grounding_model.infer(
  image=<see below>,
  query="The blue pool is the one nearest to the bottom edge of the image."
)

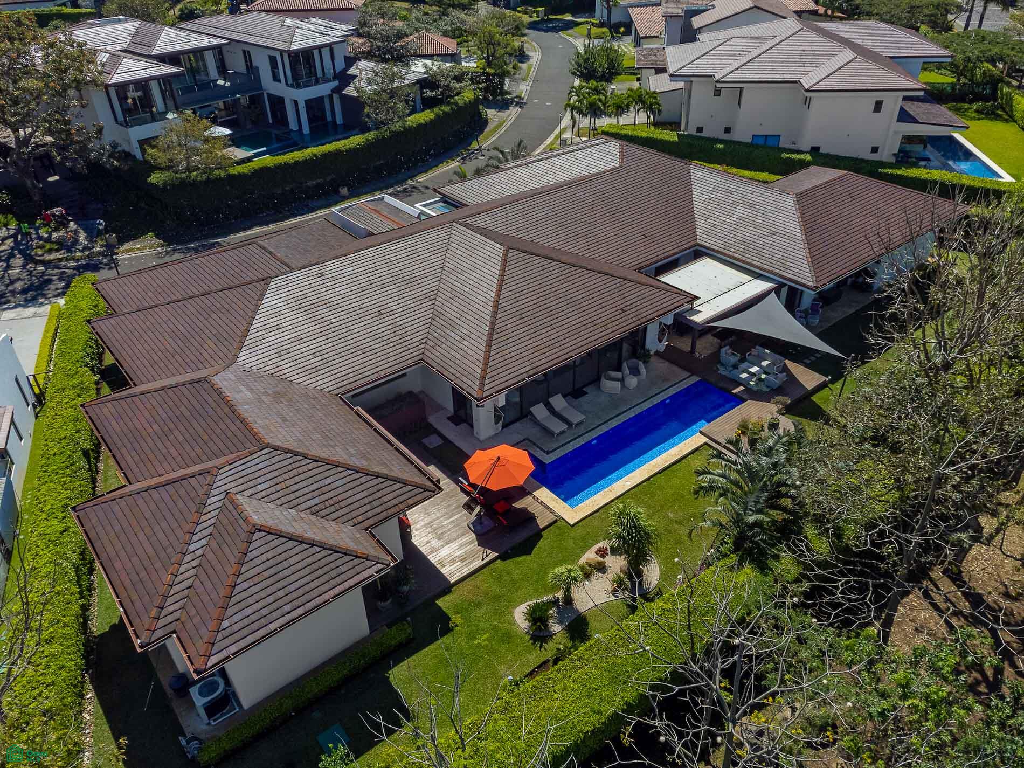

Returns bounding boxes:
[517,379,744,527]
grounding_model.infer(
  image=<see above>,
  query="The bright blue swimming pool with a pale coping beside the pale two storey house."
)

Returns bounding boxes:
[903,132,1016,179]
